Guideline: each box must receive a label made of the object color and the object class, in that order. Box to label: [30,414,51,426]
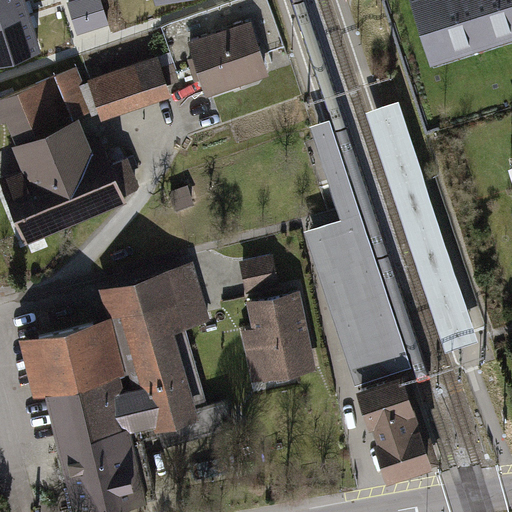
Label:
white vehicle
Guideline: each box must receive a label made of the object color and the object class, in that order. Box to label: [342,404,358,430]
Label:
white vehicle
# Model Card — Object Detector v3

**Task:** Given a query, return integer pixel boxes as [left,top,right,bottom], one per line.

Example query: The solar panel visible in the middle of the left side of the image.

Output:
[20,188,121,244]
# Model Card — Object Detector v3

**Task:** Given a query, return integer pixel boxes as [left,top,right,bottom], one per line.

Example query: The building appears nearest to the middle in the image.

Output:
[240,254,279,296]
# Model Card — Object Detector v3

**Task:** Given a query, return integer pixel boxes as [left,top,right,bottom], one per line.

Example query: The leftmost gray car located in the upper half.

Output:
[158,101,174,125]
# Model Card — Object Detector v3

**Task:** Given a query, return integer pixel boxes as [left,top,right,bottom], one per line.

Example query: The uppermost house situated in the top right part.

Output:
[409,0,512,68]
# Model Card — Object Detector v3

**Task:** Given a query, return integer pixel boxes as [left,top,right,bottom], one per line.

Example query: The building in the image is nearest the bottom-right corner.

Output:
[356,378,432,486]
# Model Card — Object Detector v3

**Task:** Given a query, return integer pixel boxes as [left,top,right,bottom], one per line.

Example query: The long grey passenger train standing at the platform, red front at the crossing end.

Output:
[290,0,432,383]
